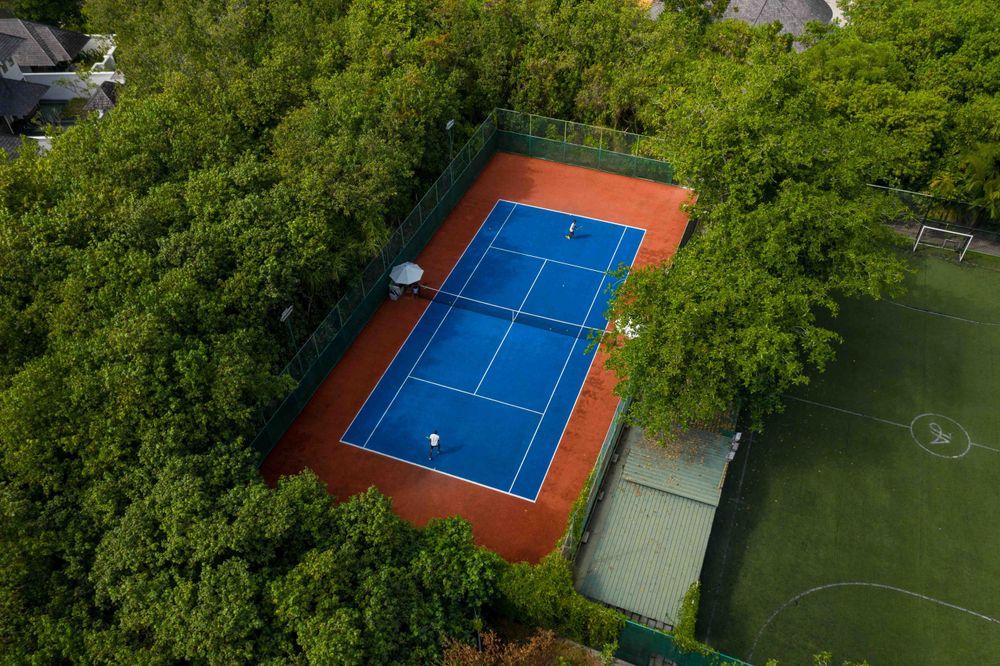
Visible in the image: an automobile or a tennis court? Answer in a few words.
tennis court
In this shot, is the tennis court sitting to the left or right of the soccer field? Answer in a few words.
on its left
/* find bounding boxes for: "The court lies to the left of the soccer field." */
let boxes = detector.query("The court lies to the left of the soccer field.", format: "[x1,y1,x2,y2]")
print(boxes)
[255,152,697,631]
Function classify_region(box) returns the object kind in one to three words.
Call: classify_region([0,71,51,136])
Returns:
house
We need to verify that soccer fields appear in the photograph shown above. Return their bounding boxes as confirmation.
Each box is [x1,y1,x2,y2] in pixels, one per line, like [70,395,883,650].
[696,229,1000,666]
